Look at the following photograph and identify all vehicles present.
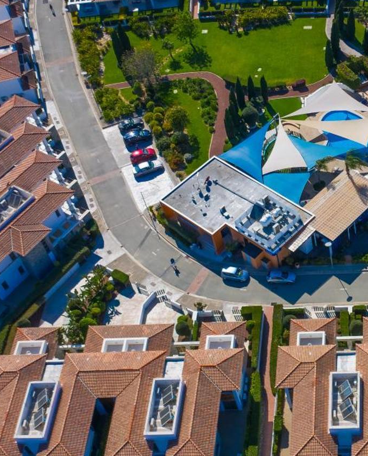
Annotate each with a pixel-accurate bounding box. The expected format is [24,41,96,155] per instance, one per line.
[134,162,163,177]
[267,269,298,284]
[124,130,150,144]
[130,148,158,163]
[220,265,250,282]
[119,119,144,132]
